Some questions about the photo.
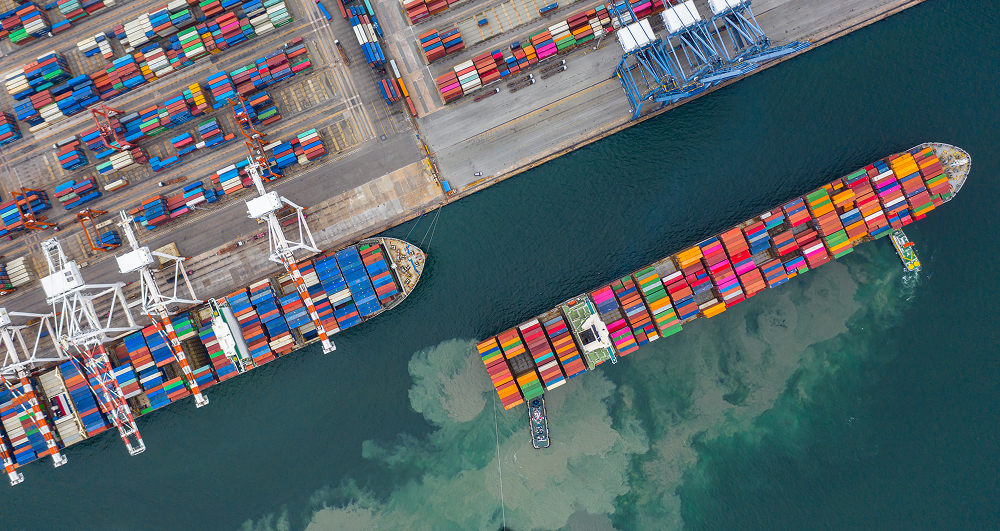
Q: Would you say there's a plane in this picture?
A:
No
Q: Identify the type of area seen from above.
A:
port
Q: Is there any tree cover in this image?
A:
No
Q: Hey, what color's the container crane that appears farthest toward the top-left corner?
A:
red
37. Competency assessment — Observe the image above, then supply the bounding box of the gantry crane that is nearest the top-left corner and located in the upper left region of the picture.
[91,104,142,154]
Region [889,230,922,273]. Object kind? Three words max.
boat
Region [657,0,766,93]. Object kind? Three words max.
container crane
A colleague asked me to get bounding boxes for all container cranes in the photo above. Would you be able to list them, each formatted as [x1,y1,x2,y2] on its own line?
[657,0,766,93]
[11,187,64,230]
[240,152,337,357]
[37,233,150,460]
[112,206,210,412]
[228,94,272,143]
[245,137,287,184]
[0,290,75,471]
[91,104,142,154]
[75,211,126,253]
[694,0,819,86]
[609,0,713,121]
